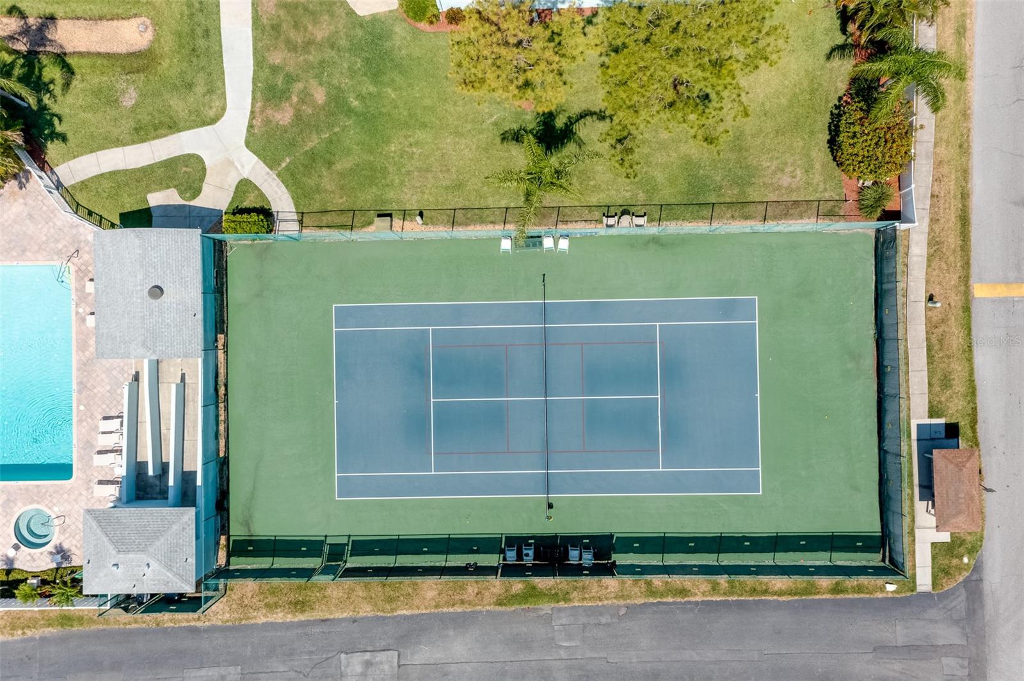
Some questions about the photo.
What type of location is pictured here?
sports ground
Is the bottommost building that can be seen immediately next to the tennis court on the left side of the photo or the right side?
left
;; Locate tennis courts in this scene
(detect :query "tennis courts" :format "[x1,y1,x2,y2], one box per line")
[228,230,881,565]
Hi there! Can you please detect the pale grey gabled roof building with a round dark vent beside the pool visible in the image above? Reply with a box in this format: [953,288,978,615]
[93,227,216,359]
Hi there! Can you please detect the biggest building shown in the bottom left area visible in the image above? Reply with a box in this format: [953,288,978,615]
[83,502,203,595]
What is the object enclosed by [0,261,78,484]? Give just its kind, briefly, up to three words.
swimming pool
